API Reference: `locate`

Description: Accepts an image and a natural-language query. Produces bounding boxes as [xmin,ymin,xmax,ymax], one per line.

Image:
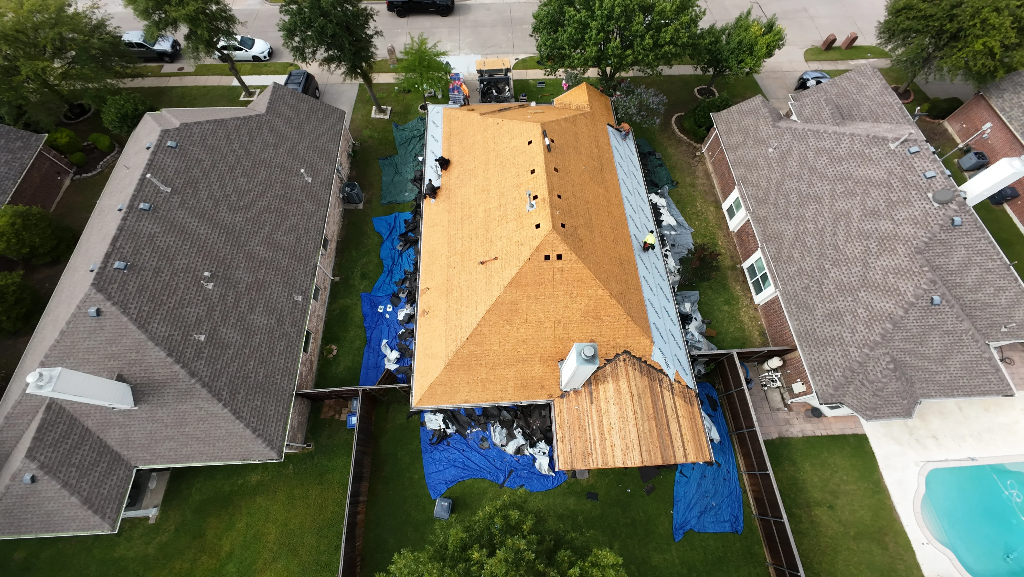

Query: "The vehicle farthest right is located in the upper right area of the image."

[792,67,830,91]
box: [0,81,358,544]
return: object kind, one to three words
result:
house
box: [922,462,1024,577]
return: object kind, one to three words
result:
swimming pool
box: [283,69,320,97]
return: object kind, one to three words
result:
car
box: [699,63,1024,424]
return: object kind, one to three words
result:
house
